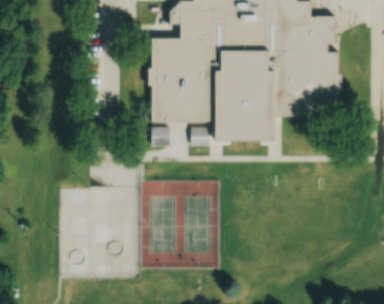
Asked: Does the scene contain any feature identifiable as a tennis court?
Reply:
Yes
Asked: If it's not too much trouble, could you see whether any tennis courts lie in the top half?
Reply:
No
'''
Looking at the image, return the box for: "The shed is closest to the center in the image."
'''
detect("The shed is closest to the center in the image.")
[192,128,210,147]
